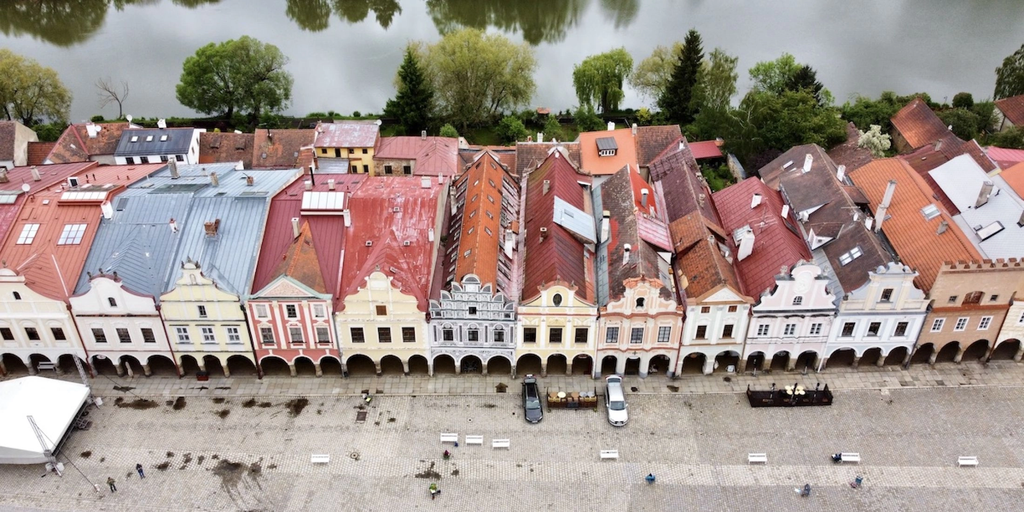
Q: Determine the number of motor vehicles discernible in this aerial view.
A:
2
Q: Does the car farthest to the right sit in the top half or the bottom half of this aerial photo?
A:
bottom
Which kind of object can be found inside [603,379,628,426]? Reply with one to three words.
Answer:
car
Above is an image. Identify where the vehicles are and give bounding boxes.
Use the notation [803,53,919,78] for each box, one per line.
[522,376,546,423]
[603,379,628,426]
